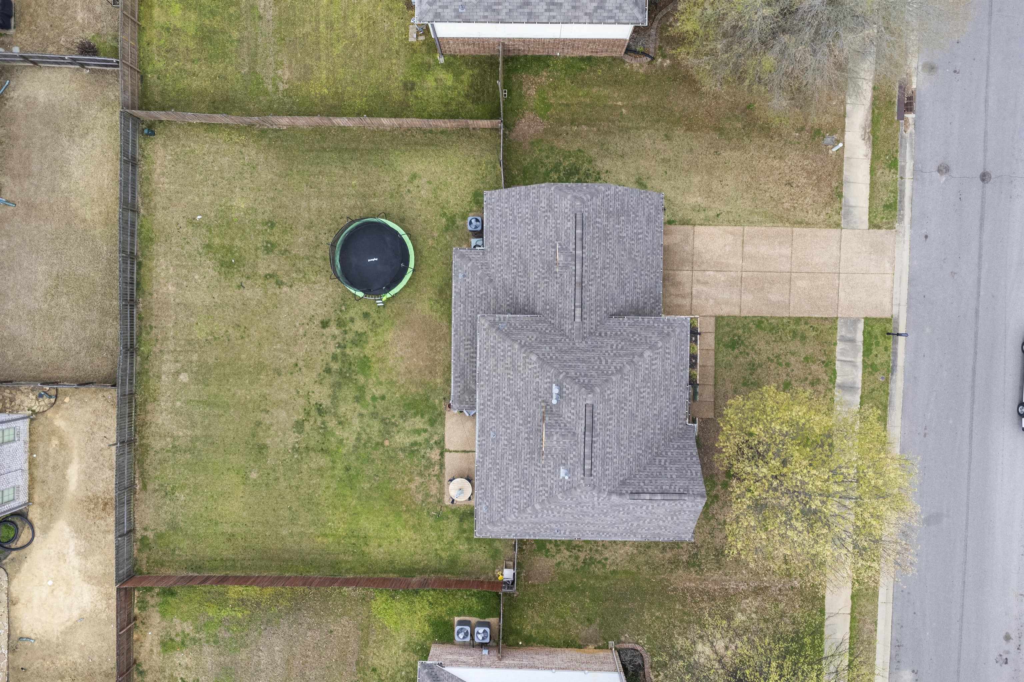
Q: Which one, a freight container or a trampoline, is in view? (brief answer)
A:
trampoline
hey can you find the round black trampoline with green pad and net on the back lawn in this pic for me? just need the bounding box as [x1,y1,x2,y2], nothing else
[329,214,422,308]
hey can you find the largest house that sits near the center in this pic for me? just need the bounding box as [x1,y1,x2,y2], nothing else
[450,180,709,543]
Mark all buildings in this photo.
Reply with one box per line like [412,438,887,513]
[413,0,650,60]
[450,180,709,543]
[416,640,629,682]
[0,415,33,518]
